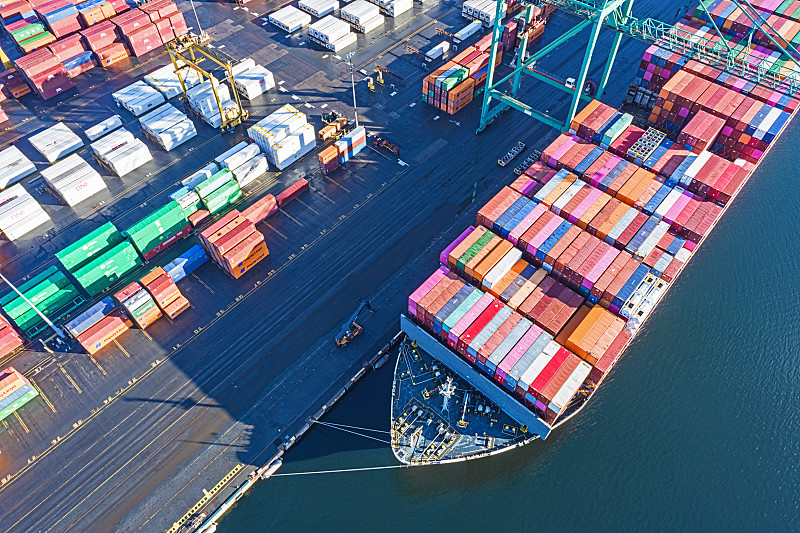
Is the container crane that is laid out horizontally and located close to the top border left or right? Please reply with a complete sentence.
The container crane that is laid out horizontally and located close to the top border is on the right side of the image.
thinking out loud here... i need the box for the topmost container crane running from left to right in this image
[474,0,800,134]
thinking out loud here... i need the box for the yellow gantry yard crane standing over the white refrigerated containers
[167,37,250,131]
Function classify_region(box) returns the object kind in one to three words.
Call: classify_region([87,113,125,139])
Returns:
shipping container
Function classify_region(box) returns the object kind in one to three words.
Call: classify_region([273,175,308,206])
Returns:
shipping container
